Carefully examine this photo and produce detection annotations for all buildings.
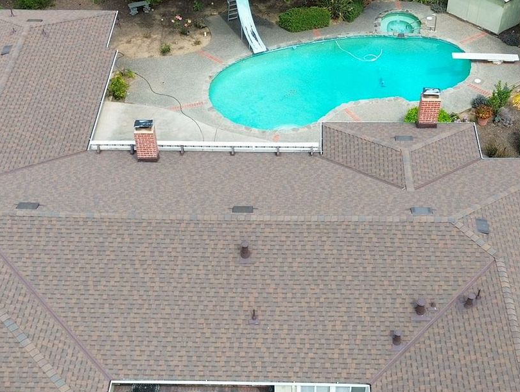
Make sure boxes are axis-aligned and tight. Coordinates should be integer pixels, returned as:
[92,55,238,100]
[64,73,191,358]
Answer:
[448,0,520,33]
[0,5,520,392]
